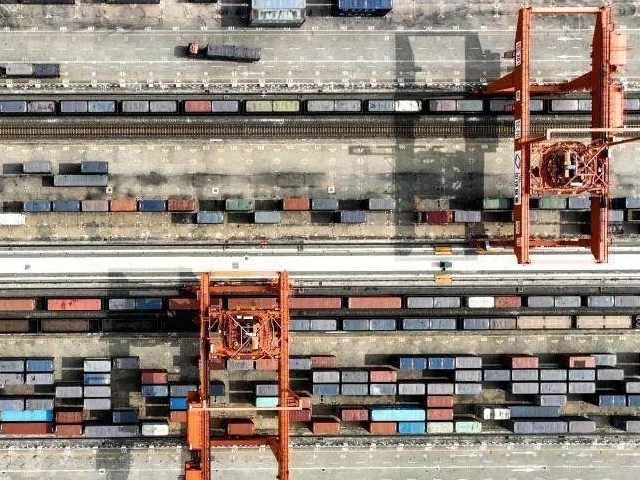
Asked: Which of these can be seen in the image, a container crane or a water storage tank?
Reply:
container crane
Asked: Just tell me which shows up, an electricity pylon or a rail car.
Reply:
rail car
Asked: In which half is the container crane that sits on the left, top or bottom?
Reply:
bottom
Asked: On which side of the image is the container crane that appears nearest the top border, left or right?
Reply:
right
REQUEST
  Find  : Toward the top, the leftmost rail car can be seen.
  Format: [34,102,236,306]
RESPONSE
[0,100,59,117]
